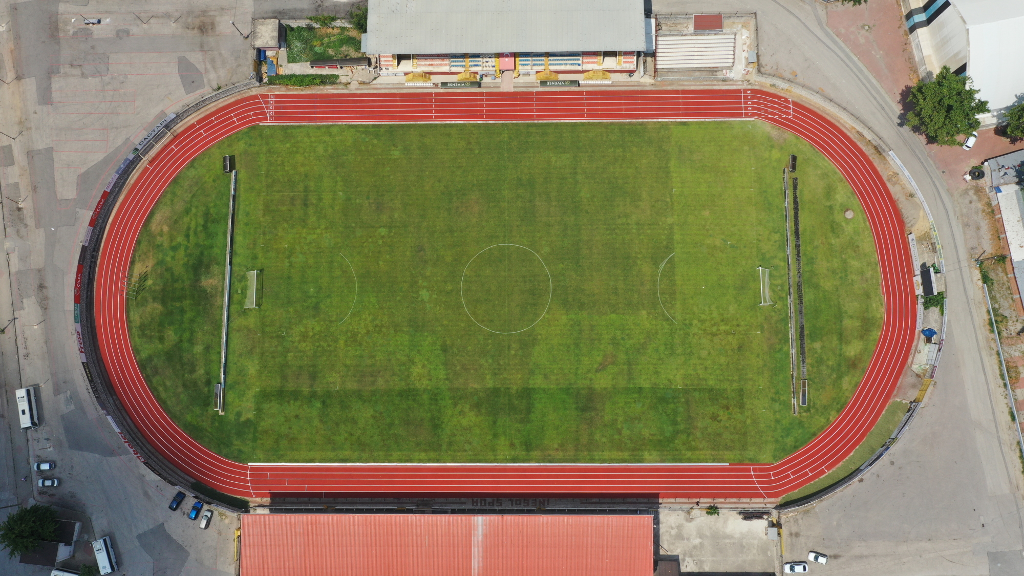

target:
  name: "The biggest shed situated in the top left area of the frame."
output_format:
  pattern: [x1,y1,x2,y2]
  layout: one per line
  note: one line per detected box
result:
[252,19,283,52]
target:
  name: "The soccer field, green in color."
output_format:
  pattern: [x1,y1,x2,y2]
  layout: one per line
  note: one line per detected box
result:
[253,126,765,457]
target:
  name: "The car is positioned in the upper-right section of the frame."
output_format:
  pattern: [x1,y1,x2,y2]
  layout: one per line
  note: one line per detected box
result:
[961,133,977,152]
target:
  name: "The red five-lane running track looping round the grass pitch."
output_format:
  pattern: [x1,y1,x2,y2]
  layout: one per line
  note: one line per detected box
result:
[94,89,917,499]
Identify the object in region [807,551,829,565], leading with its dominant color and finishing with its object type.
white car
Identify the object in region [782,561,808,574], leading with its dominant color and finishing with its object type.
white vehicle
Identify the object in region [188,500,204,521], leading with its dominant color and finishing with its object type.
blue car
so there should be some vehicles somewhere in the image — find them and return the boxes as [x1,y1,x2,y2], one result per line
[198,508,214,530]
[18,388,40,429]
[34,461,56,471]
[188,500,204,521]
[782,561,808,574]
[169,491,186,512]
[94,535,119,576]
[807,551,829,565]
[961,133,977,152]
[52,564,95,576]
